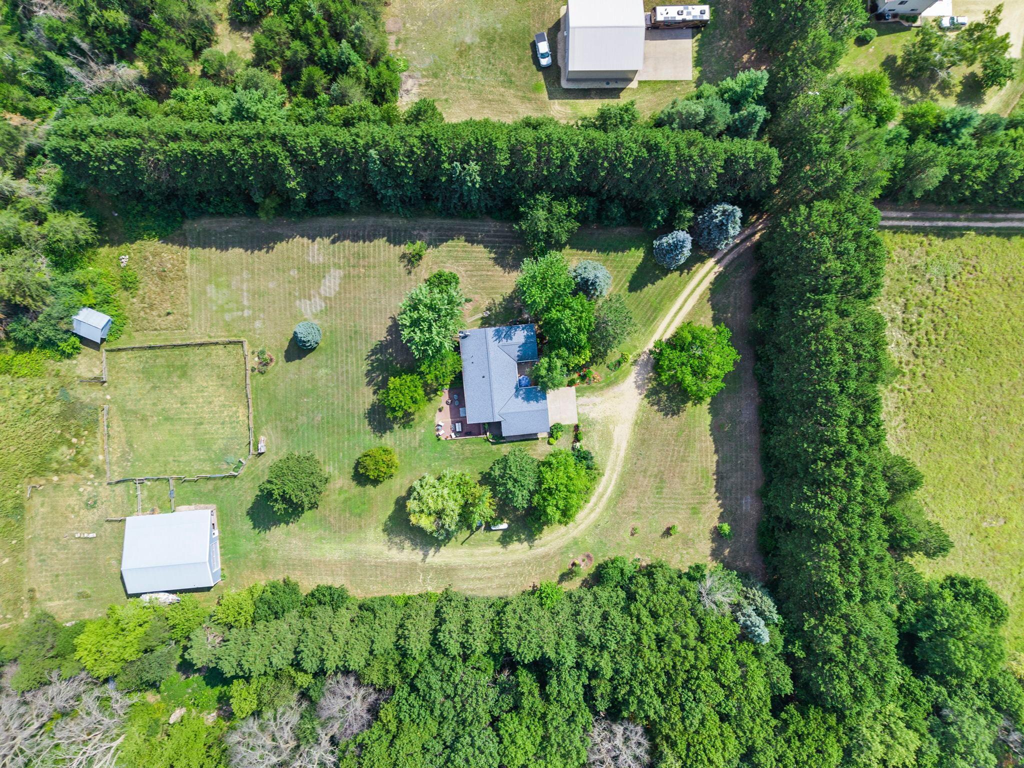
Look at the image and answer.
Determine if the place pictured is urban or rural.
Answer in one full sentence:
The land in this view is best described as rural.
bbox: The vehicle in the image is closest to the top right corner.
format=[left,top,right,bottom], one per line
[940,12,971,29]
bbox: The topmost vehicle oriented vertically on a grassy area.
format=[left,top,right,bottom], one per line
[534,31,552,68]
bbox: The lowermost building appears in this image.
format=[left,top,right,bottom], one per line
[120,509,222,595]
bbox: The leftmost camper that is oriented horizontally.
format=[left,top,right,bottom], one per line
[647,6,709,30]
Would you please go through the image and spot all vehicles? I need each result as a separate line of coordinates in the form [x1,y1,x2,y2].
[647,6,709,30]
[940,12,971,29]
[534,31,552,68]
